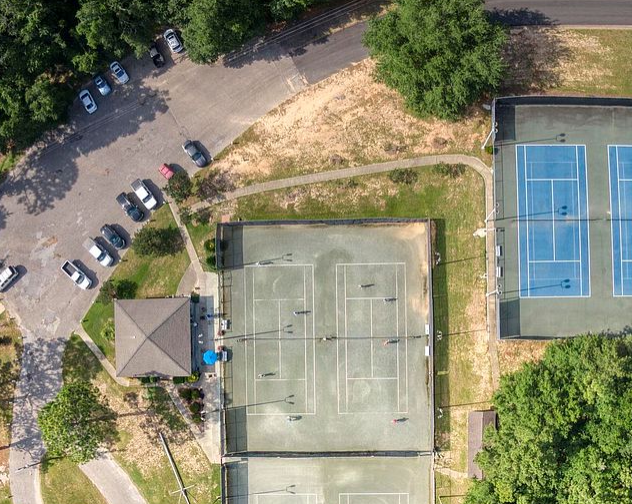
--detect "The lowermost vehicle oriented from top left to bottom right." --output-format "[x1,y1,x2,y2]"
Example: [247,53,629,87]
[56,257,91,291]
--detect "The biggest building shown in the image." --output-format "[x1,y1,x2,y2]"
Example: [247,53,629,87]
[113,297,195,378]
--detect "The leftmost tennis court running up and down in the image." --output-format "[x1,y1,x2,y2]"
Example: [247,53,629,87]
[222,223,328,455]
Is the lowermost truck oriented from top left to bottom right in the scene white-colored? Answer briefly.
Yes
